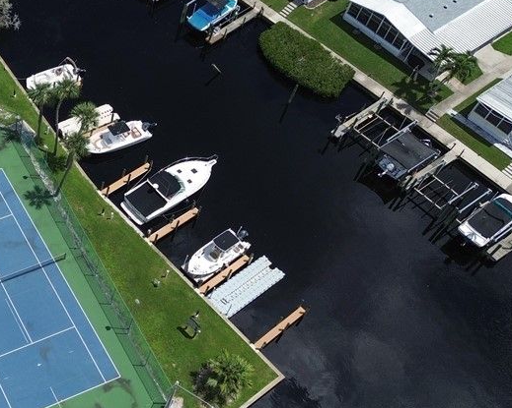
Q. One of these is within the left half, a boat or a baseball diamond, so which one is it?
boat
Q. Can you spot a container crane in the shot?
No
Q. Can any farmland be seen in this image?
No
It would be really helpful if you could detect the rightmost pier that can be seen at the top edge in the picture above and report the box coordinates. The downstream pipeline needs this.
[203,2,265,50]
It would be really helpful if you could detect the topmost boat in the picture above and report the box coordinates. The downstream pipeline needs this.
[185,0,238,35]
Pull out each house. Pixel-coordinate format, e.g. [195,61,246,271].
[344,0,512,82]
[468,70,512,141]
